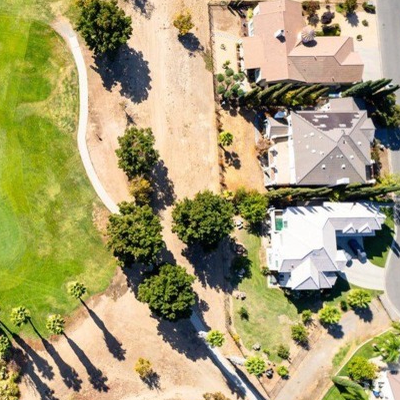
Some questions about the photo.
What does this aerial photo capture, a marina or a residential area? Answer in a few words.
residential area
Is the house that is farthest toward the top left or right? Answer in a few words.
right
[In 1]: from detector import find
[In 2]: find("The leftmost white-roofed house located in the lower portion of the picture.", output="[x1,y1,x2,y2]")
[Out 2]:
[268,202,385,289]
